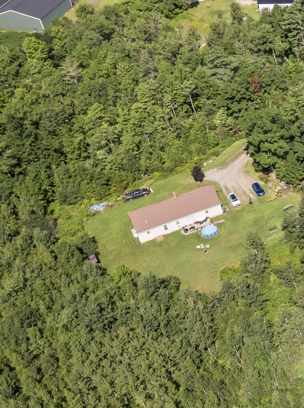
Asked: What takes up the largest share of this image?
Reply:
trees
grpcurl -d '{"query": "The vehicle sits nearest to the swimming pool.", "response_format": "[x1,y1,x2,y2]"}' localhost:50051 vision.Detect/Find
[227,192,242,208]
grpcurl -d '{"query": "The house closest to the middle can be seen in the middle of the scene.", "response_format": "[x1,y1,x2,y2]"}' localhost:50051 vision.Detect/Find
[128,183,224,242]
